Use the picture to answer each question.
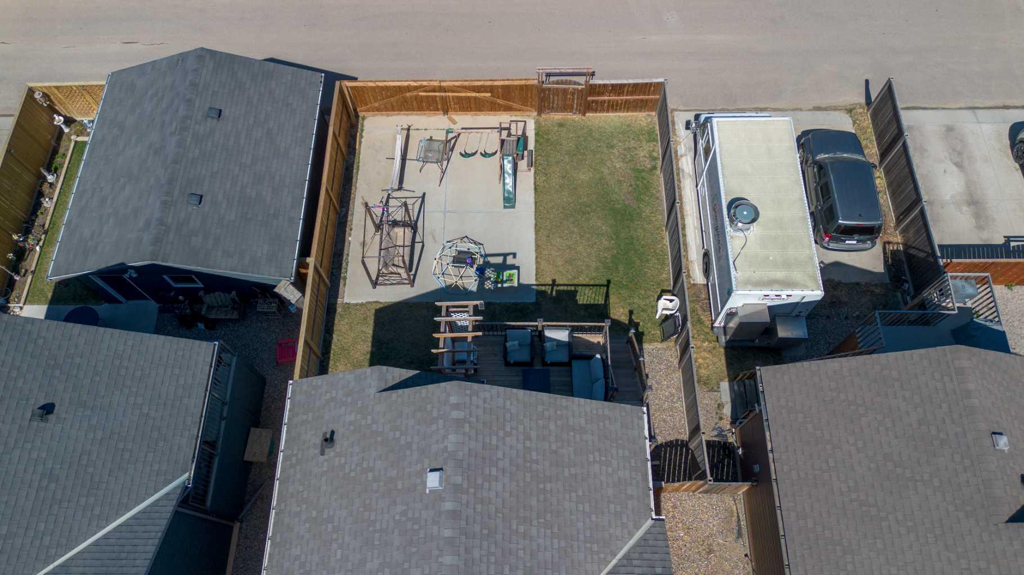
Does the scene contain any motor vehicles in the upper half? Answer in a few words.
Yes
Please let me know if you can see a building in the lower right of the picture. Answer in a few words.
Yes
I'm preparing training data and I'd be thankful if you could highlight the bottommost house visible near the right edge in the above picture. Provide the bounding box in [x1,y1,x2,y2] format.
[727,344,1024,575]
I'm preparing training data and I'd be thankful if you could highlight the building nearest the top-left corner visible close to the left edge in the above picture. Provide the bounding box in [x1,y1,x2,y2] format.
[47,46,327,307]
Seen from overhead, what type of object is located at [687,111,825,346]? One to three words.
truck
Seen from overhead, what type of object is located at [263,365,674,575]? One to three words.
house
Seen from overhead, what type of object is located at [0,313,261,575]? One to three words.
house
